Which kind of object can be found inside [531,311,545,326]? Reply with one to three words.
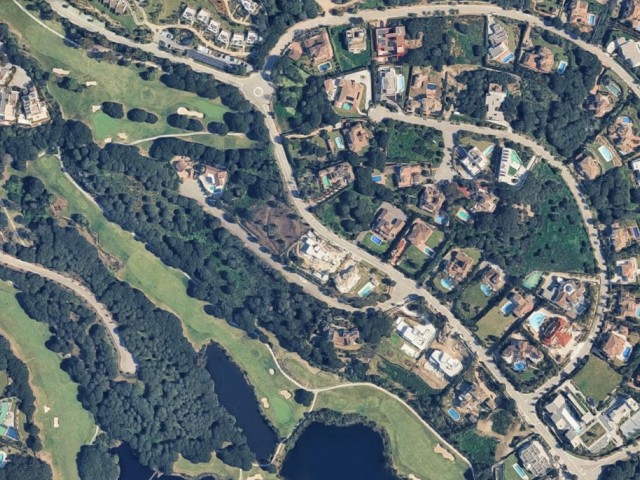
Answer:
swimming pool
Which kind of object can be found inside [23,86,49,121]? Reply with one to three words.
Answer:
building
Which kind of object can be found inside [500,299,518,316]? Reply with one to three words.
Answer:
swimming pool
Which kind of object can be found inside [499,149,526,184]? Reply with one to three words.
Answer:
house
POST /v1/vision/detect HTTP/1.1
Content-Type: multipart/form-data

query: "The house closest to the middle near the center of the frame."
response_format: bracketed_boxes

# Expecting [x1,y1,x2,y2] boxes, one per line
[306,232,345,268]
